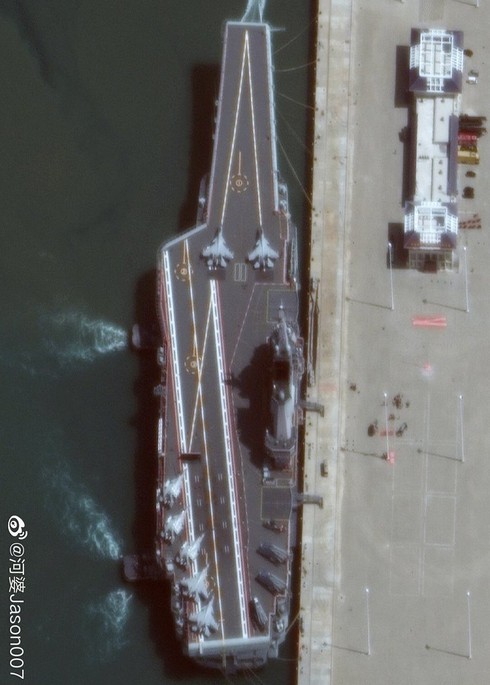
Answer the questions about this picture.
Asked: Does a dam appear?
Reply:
No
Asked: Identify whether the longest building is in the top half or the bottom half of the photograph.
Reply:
top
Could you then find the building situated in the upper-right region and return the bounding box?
[404,28,464,278]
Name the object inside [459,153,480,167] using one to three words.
vehicle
